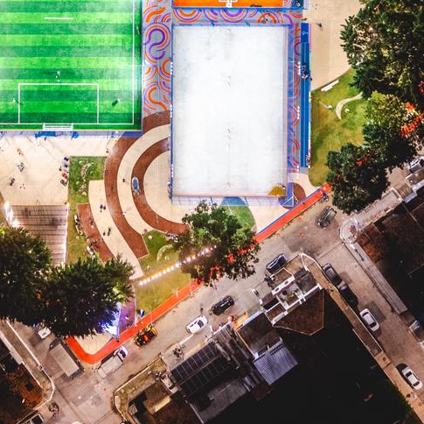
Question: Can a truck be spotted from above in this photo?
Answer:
Yes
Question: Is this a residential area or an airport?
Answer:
residential area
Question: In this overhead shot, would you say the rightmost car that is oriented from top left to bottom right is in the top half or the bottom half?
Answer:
bottom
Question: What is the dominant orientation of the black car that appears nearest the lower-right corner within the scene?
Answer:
at an angle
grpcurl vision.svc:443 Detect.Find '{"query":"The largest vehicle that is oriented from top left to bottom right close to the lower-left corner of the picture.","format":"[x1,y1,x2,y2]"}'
[47,338,82,385]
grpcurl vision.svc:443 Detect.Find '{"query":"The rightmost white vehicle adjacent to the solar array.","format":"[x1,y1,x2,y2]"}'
[186,315,209,337]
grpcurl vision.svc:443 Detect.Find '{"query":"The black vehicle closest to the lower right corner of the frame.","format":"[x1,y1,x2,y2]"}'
[339,283,361,309]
